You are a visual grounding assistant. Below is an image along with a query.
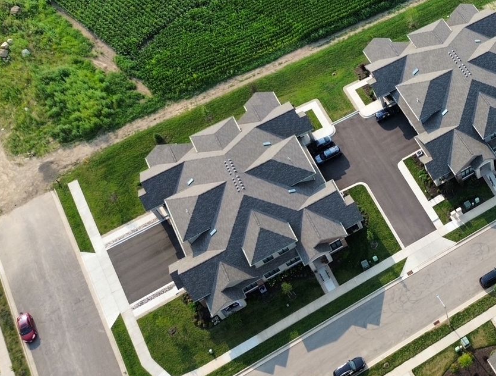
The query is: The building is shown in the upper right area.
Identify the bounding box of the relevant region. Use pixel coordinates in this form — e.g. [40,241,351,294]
[360,0,496,197]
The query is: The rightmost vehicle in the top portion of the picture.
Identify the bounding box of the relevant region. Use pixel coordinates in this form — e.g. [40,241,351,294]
[372,103,398,123]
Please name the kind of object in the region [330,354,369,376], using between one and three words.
car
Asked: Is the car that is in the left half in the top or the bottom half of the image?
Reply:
bottom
